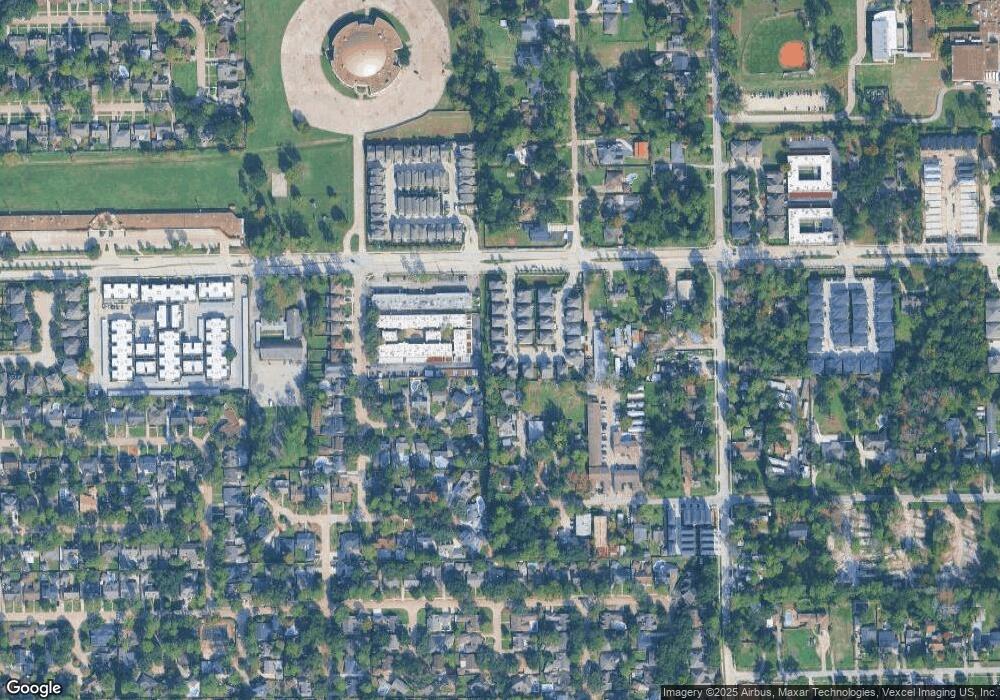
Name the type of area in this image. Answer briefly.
residential area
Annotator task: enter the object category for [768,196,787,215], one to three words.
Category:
house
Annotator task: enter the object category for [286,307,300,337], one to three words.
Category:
building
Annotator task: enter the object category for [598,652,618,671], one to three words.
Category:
house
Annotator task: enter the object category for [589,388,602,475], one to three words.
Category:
building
